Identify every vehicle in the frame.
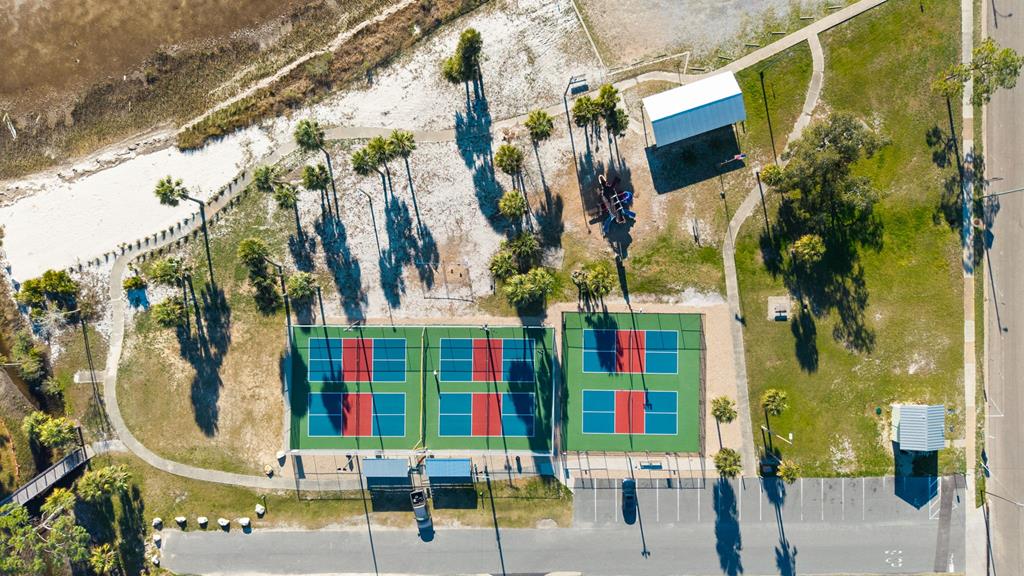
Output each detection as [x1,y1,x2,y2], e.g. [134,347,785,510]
[622,478,639,513]
[407,488,432,531]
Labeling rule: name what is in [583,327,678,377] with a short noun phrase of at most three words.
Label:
sports court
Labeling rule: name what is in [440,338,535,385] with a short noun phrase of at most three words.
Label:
sports court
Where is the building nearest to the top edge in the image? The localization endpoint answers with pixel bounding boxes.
[642,71,746,147]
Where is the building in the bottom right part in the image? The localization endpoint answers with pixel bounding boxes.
[890,404,944,451]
